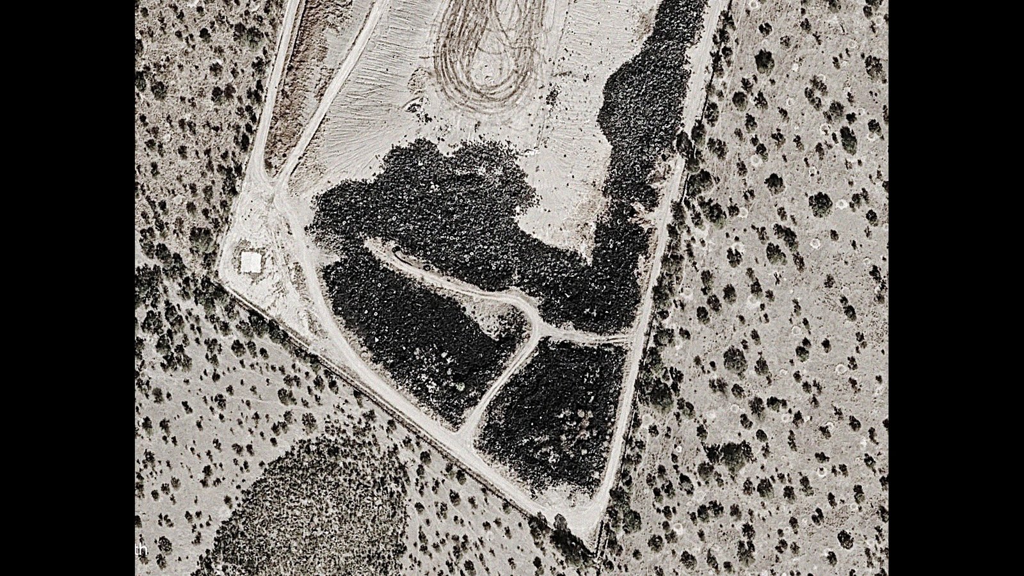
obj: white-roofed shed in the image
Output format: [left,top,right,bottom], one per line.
[240,251,261,273]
